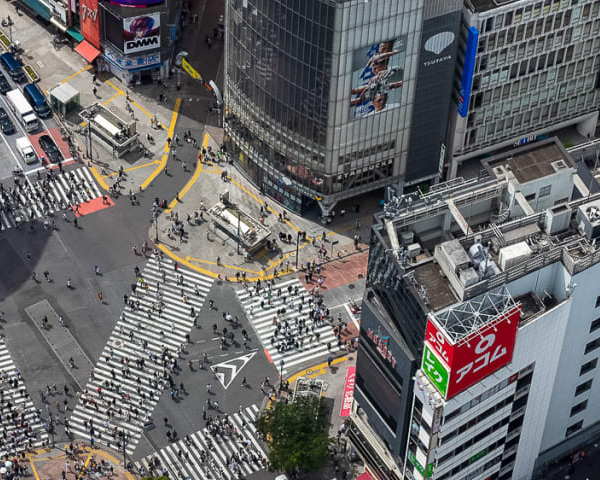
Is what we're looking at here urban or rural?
urban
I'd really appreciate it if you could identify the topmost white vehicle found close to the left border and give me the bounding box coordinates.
[9,88,40,130]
